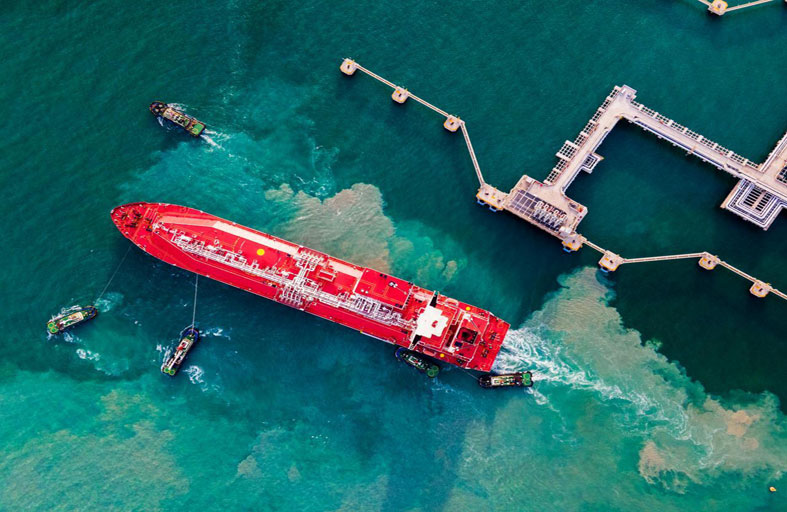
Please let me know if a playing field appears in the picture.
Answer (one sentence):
No, this view has no playing field in it.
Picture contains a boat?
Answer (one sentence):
Yes, the frame does contain a boat.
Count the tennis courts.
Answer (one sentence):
I count no tennis courts.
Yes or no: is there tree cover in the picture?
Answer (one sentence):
No, no tree cover is visible.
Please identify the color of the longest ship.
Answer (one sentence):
The longest ship looks red in the image.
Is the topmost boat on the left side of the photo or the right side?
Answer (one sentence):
It is on the left.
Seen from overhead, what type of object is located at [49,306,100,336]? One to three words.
boat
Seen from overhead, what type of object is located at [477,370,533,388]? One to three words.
boat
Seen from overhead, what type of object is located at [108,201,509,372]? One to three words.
ship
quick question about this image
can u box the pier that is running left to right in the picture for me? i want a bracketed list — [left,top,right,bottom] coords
[546,84,787,205]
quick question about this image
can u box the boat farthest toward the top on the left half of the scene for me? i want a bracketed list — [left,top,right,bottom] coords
[148,104,207,140]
